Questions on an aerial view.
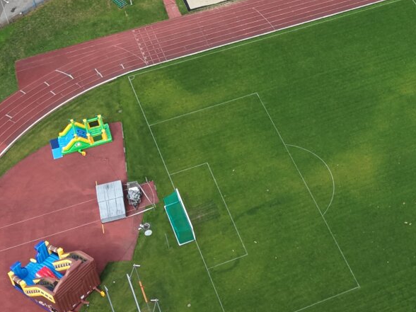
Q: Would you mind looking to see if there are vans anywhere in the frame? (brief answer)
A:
No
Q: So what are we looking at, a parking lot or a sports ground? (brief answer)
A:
sports ground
